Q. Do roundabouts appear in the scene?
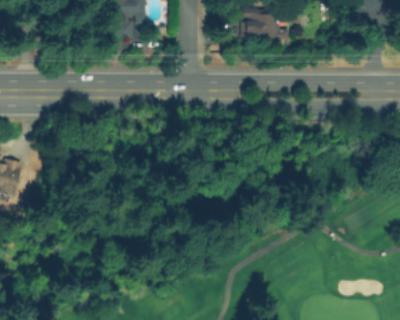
No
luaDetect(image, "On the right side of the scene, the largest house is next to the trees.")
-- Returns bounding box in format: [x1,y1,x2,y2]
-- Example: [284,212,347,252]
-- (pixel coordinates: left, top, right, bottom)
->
[237,8,290,40]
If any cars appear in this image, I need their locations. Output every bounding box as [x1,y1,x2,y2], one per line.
[132,42,144,48]
[147,42,159,47]
[82,75,93,80]
[173,86,184,90]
